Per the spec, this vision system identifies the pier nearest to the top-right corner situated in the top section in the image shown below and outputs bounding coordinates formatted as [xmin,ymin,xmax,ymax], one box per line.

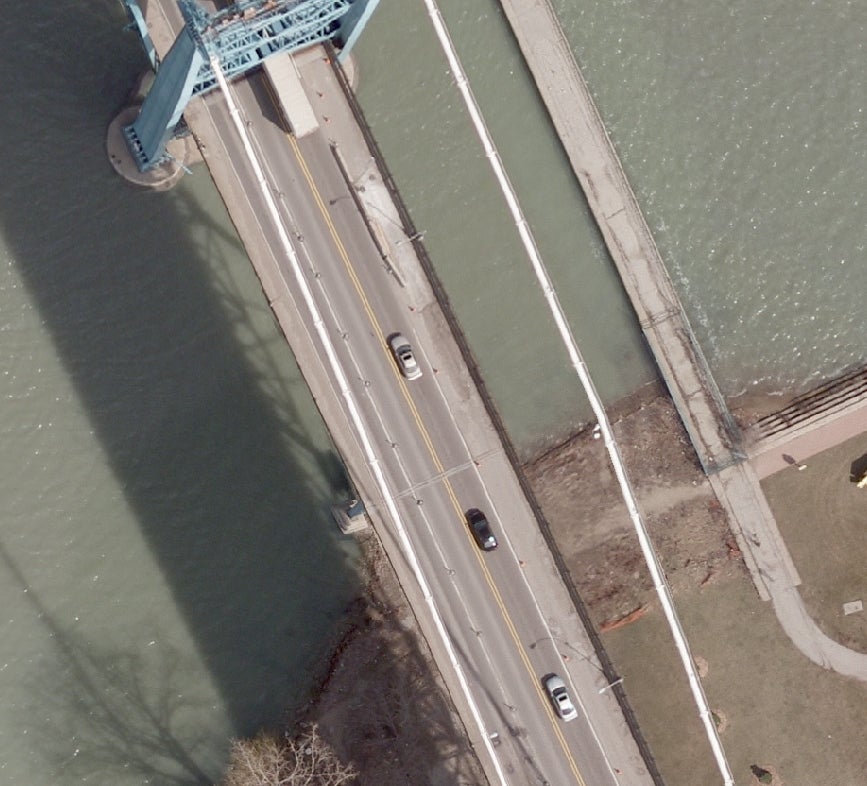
[497,0,743,473]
